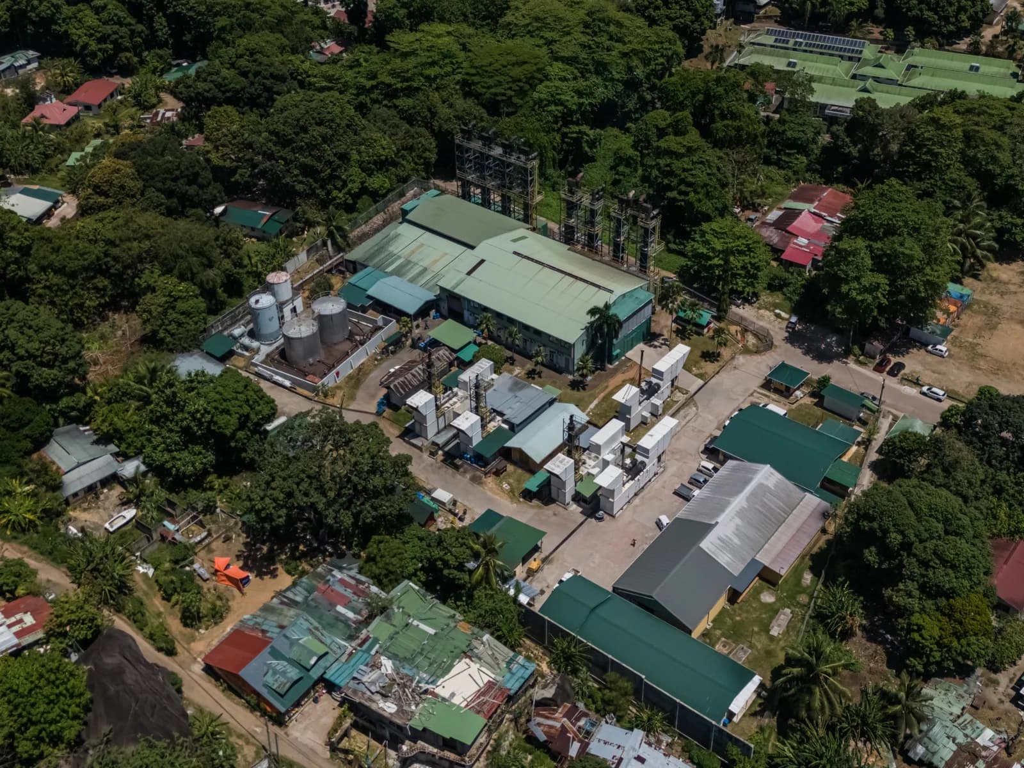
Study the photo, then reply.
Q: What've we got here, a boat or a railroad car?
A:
boat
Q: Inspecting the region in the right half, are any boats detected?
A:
No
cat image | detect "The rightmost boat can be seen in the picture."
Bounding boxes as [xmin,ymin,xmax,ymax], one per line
[186,529,210,545]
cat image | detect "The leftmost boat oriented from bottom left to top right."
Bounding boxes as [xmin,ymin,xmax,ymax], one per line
[100,507,138,534]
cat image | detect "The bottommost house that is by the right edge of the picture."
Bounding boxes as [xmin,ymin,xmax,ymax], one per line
[902,712,1016,768]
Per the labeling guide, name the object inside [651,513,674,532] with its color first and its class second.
white car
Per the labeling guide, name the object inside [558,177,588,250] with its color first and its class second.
black chimney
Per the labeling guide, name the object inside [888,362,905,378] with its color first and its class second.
black car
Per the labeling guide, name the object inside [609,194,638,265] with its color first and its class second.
black chimney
